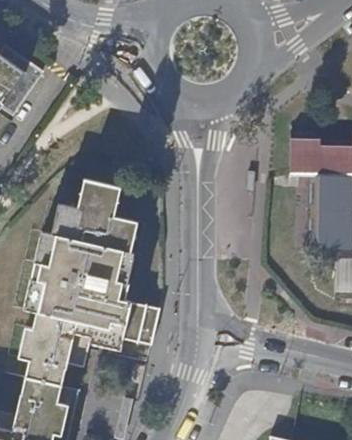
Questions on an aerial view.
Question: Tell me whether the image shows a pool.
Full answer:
No, there appears to be no pool in this shot.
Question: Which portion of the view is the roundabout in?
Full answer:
The roundabout appears toward the top of the photo.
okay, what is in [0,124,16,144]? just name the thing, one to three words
car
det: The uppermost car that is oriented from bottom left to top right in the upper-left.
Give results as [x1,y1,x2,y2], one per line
[16,102,32,120]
